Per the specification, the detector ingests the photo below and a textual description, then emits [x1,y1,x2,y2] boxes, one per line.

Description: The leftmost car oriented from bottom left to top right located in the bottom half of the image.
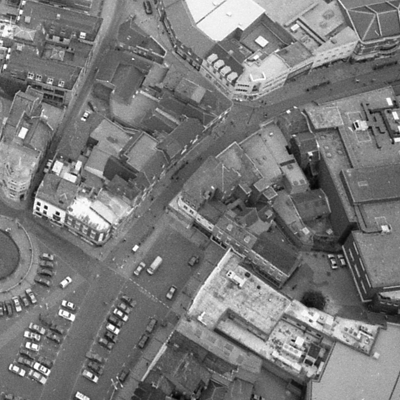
[58,275,74,289]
